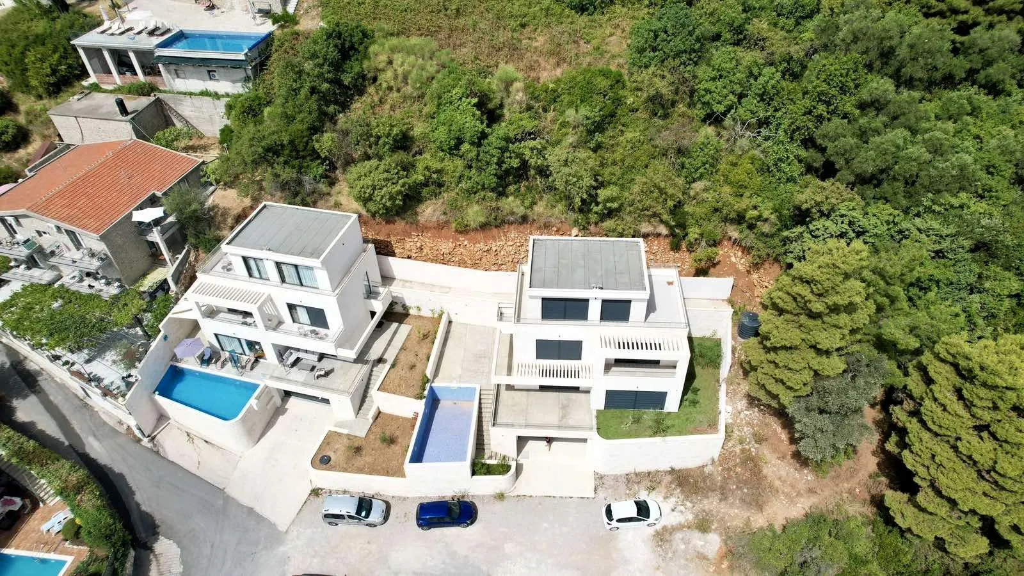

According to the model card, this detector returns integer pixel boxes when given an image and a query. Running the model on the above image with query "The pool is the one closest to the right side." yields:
[404,383,479,494]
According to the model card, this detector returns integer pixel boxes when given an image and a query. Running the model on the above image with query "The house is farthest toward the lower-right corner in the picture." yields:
[491,236,692,461]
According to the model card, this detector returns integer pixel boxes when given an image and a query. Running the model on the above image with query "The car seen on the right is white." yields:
[601,495,663,532]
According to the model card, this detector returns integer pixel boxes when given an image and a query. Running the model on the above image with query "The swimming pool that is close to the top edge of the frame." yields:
[158,25,274,70]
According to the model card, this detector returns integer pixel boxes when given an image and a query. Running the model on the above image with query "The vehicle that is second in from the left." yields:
[417,497,476,533]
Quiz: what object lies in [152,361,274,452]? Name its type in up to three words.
swimming pool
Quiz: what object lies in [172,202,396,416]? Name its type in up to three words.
house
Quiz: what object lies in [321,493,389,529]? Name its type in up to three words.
vehicle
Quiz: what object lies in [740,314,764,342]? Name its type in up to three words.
water tank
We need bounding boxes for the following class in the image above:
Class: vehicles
[601,495,663,532]
[417,497,476,533]
[321,493,389,529]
